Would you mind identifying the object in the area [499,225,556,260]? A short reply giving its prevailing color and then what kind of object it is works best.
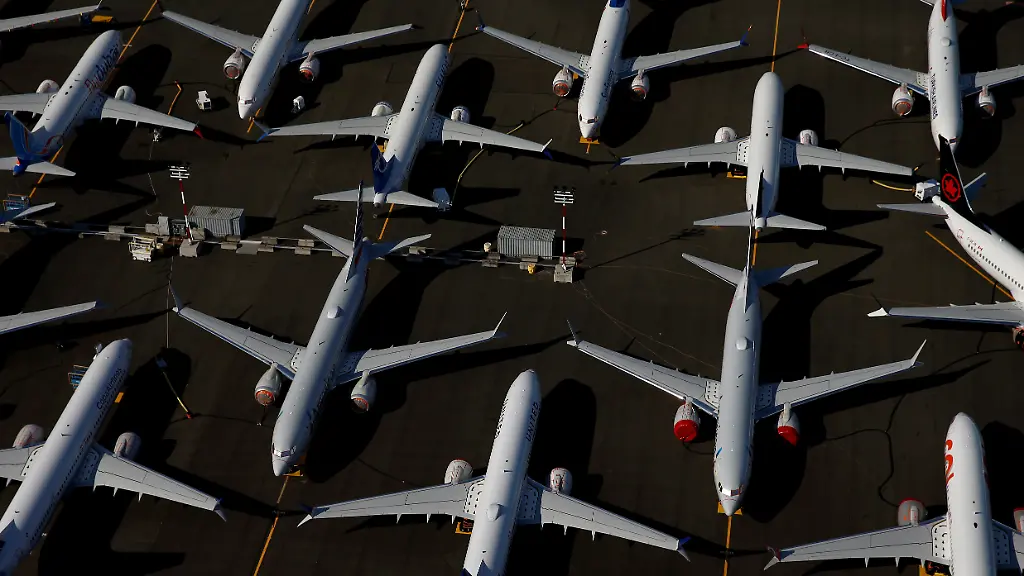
gray shipping container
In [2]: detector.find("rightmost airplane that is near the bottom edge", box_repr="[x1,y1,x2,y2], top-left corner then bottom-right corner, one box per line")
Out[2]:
[768,414,1024,576]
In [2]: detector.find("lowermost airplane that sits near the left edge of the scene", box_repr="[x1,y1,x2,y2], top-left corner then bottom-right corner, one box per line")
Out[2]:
[0,341,224,576]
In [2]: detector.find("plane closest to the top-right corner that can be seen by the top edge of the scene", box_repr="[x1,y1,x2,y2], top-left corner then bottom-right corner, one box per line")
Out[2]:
[801,0,1024,156]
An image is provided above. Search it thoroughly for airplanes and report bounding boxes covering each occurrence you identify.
[567,205,925,517]
[608,73,923,232]
[0,0,110,56]
[868,136,1024,352]
[255,44,553,208]
[158,0,423,119]
[0,341,224,576]
[0,31,199,177]
[768,414,1024,576]
[297,372,690,576]
[475,0,752,139]
[801,0,1024,156]
[170,177,507,477]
